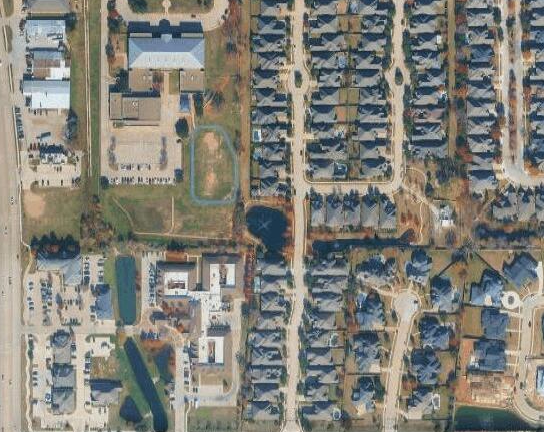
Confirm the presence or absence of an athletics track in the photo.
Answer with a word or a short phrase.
Yes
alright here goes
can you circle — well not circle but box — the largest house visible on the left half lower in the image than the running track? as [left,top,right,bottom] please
[155,253,243,371]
